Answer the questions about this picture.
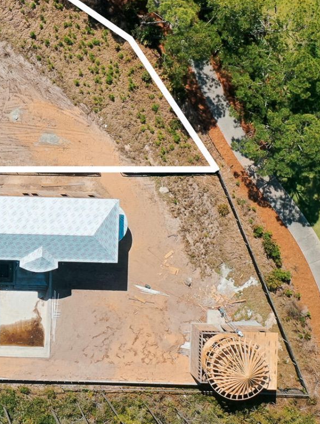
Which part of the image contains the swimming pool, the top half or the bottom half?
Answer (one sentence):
The swimming pool is in the bottom half of the image.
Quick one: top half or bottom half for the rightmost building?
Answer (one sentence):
The rightmost building sits in the bottom half of the picture.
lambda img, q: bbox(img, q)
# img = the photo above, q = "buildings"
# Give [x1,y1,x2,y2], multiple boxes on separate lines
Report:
[0,190,128,274]
[192,310,281,401]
